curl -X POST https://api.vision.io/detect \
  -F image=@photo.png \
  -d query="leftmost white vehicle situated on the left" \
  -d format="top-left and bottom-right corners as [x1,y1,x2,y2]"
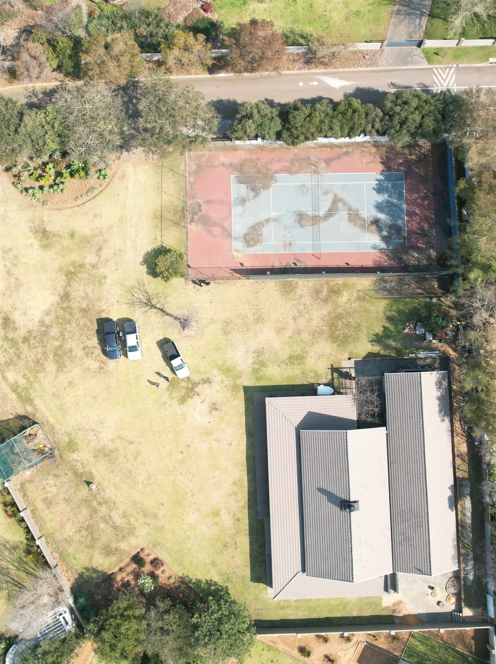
[124,320,143,361]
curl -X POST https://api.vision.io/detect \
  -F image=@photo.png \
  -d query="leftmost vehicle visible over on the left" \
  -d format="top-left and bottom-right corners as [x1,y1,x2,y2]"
[103,320,123,361]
